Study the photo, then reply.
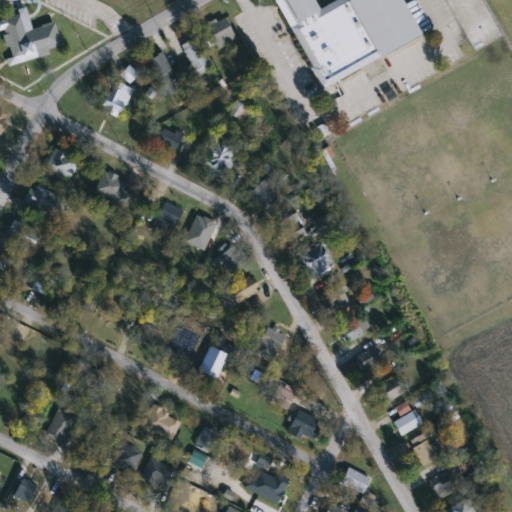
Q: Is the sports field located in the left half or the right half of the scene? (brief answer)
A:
right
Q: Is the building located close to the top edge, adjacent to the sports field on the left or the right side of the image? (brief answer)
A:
right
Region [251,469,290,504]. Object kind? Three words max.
house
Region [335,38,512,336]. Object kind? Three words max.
sports field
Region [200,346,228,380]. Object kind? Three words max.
barn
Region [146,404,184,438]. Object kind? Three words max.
house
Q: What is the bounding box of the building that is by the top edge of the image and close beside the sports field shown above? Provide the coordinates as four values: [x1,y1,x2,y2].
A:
[277,0,422,88]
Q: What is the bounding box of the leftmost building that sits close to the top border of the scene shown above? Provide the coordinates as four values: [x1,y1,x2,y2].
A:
[0,6,61,64]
